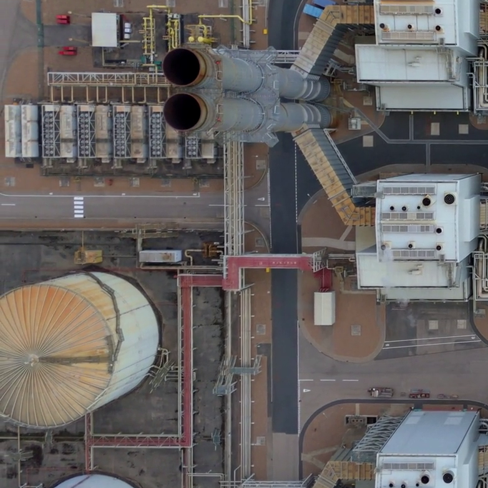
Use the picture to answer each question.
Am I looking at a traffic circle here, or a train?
train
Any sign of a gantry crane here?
No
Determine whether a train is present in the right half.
No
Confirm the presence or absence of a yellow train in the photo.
Yes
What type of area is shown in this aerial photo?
industrial area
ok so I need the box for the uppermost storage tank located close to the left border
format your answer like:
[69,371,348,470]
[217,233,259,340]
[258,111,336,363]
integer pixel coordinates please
[0,267,163,428]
